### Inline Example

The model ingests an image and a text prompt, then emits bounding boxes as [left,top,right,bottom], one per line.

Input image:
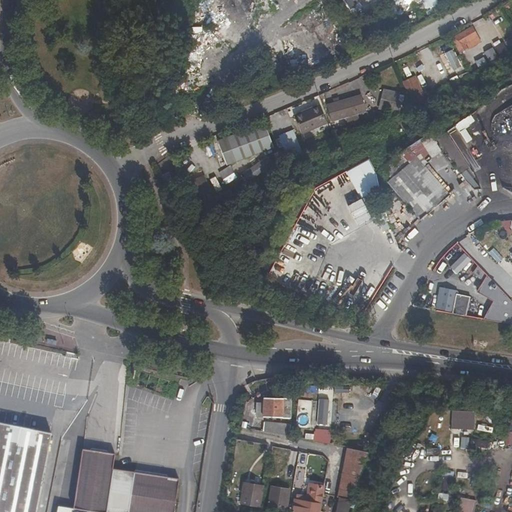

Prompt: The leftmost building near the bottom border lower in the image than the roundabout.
[0,424,52,512]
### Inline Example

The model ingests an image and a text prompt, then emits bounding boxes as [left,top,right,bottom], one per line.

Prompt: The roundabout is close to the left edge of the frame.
[0,120,133,314]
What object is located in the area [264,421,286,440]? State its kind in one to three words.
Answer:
building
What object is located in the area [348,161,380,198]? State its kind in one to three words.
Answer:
building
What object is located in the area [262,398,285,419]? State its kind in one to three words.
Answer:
house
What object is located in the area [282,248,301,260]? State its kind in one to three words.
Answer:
vehicle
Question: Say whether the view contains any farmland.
No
